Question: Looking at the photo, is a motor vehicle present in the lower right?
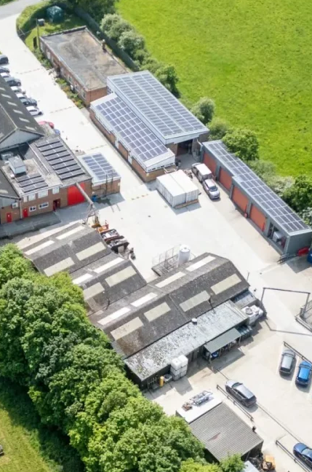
Yes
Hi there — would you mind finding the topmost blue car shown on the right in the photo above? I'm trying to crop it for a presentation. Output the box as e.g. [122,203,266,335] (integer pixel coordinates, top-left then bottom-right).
[296,362,312,387]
